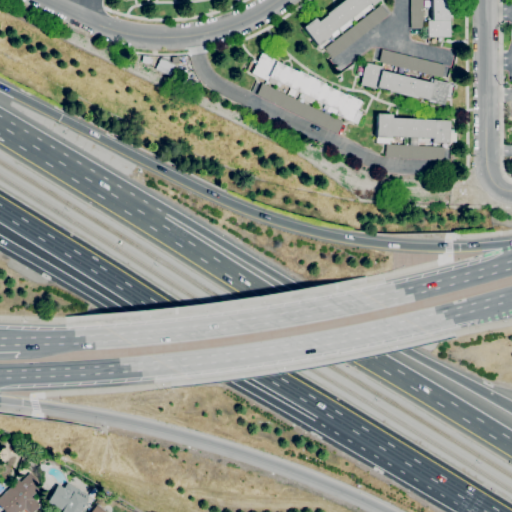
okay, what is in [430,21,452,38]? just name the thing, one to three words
building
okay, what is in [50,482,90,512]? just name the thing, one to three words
house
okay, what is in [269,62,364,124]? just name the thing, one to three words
building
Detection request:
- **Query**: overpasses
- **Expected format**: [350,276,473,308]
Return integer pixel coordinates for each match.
[0,276,512,388]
